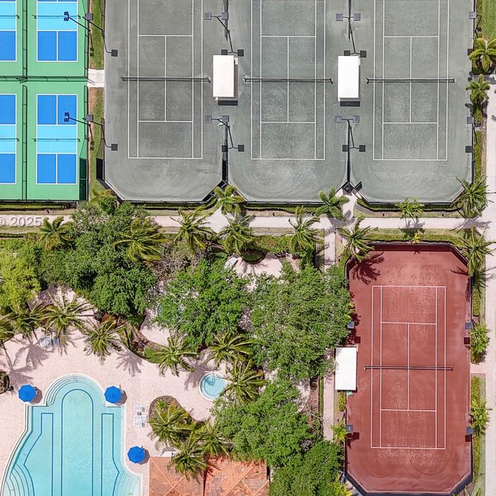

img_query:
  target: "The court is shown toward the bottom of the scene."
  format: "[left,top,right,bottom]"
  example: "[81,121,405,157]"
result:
[346,243,472,493]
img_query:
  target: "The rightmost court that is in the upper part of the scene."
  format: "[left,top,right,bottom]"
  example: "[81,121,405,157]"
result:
[350,0,475,203]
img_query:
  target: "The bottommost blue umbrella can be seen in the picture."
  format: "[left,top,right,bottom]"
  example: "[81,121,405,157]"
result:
[128,446,145,463]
